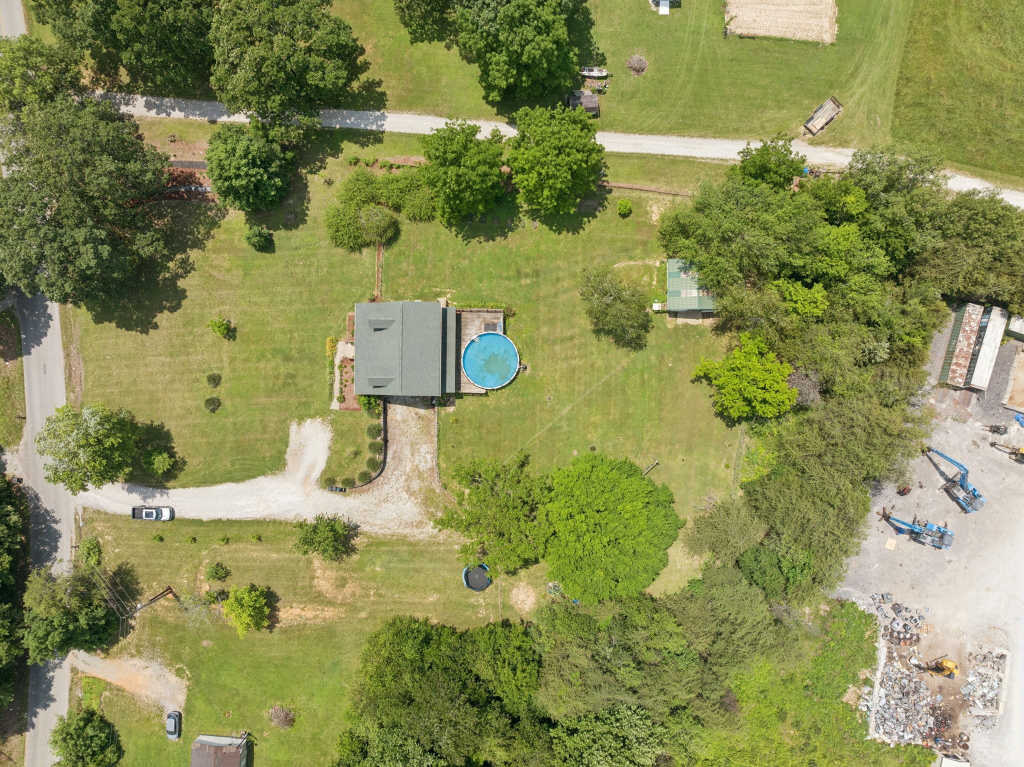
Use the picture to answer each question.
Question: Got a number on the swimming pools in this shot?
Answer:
1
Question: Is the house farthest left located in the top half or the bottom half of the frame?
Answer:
bottom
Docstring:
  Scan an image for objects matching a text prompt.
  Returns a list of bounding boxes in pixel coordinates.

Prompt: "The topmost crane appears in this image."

[920,435,988,518]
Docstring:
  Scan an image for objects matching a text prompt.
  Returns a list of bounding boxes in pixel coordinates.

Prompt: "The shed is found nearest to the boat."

[569,92,599,118]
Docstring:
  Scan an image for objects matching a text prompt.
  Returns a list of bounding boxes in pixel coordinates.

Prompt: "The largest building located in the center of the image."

[352,300,456,396]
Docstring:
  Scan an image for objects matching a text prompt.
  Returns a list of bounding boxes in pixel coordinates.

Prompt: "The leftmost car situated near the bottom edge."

[164,709,182,740]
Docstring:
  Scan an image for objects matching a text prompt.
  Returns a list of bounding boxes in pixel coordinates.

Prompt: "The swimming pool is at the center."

[461,331,521,390]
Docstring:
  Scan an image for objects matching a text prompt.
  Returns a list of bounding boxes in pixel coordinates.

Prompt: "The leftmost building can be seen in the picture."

[191,734,249,767]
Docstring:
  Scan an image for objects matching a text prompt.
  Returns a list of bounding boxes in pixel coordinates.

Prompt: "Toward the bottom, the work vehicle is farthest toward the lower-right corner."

[909,652,961,678]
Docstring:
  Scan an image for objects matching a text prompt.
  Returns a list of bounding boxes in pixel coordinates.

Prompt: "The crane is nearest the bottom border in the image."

[872,510,963,554]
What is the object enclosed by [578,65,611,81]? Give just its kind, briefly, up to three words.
boat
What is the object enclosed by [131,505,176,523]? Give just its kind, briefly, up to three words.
vehicle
